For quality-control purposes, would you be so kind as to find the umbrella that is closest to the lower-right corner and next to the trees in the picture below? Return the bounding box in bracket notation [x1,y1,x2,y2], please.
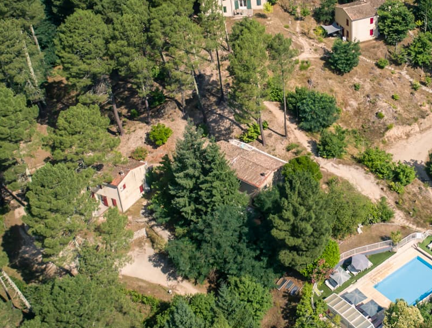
[361,294,383,315]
